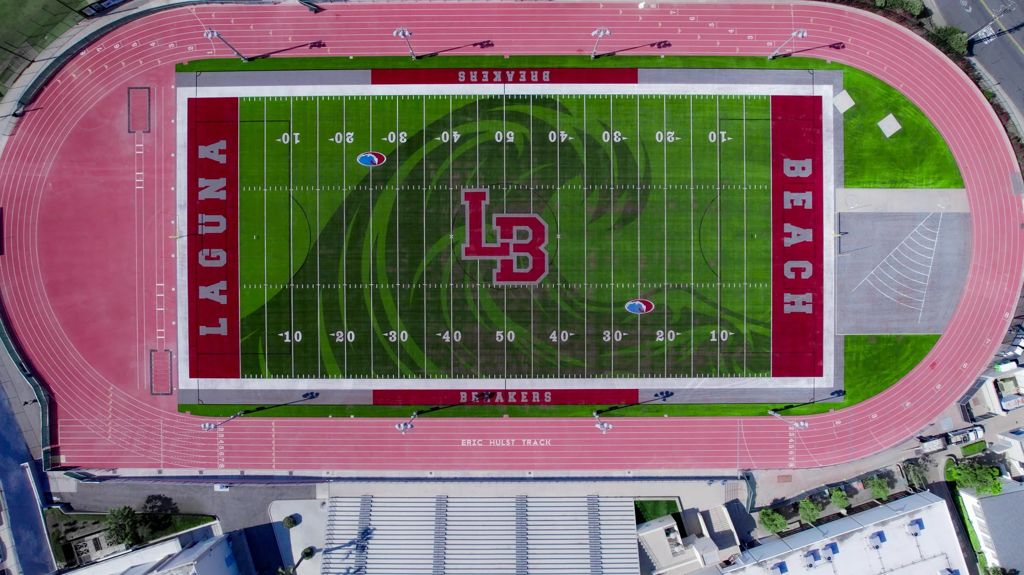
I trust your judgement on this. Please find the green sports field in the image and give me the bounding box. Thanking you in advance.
[176,55,845,418]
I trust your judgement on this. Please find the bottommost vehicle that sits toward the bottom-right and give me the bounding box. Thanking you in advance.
[946,426,983,447]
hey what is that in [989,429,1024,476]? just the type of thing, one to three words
building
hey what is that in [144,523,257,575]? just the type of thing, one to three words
building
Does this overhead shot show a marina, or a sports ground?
sports ground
